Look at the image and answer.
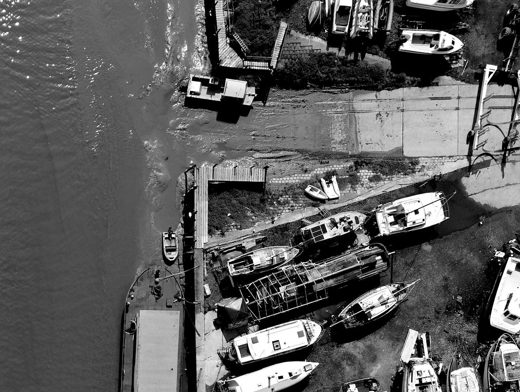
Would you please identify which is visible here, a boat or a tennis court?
boat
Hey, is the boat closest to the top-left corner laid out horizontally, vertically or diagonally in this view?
horizontally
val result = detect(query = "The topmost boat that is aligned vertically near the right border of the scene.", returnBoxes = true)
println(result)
[485,259,520,336]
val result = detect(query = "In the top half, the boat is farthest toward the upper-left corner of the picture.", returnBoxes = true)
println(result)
[182,74,256,109]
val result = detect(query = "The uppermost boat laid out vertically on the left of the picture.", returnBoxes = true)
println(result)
[162,228,178,262]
